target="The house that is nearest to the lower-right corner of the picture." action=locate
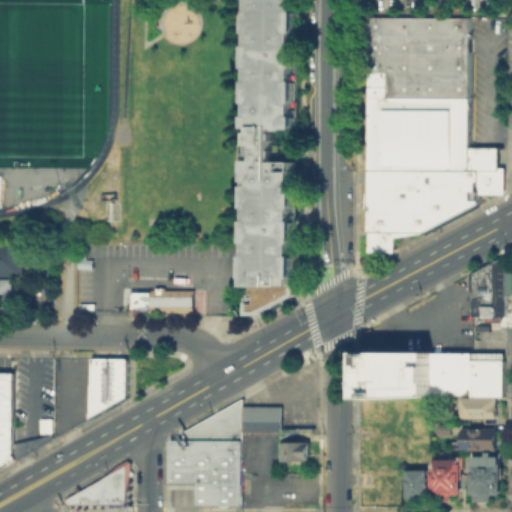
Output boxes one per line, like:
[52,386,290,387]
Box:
[468,452,502,500]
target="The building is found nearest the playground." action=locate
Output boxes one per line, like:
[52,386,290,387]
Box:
[233,0,294,288]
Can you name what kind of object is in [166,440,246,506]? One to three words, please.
building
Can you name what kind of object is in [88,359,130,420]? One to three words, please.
building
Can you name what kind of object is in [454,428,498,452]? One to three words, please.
house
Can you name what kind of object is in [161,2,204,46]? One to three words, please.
playground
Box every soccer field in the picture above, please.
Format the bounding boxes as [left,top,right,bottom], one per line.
[0,0,110,168]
